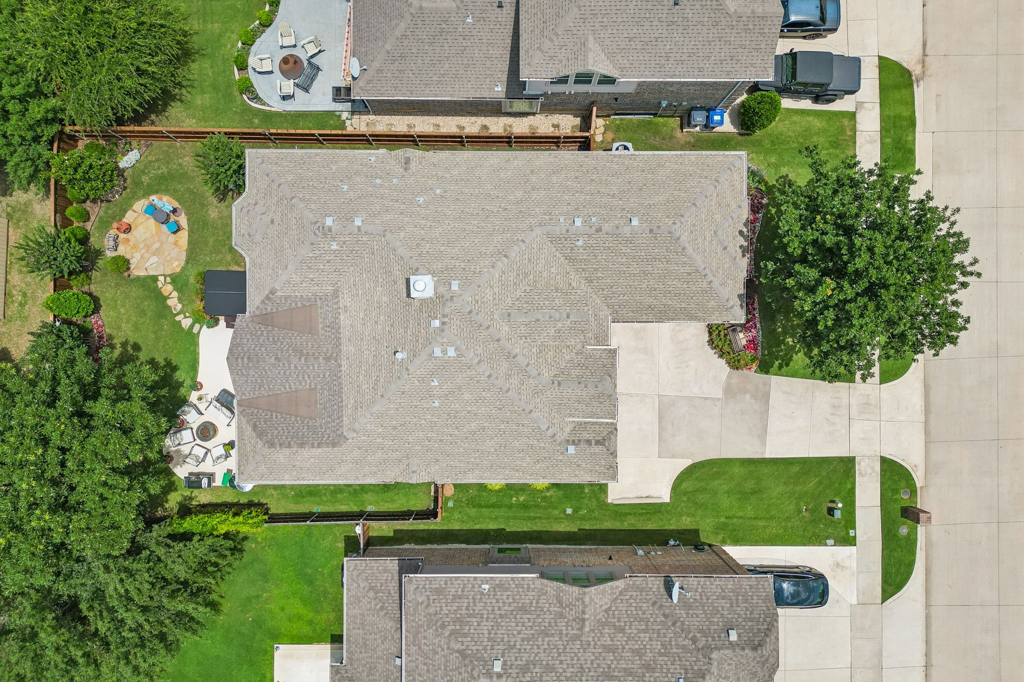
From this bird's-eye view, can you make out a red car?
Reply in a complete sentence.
No, the frame has no red car in it.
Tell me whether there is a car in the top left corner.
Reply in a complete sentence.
No, no car appears in the top left corner.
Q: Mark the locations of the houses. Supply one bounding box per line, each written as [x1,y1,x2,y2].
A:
[328,543,781,682]
[349,0,784,114]
[227,148,752,485]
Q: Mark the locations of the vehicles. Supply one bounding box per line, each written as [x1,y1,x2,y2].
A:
[781,0,841,39]
[743,565,829,609]
[744,50,861,101]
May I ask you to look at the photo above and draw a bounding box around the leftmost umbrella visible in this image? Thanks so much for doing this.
[152,199,184,218]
